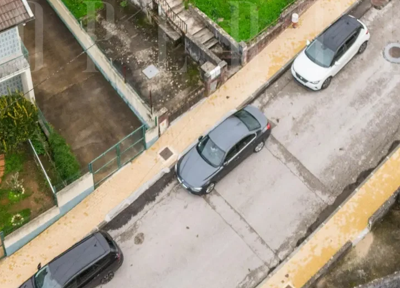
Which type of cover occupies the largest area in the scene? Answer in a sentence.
The largest share of the image is taken up by paved ground.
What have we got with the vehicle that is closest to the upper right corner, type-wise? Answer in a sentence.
The vehicle that is closest to the upper right corner in the image is a car.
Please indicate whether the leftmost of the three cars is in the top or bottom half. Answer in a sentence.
You can find the leftmost of the three cars in the bottom half.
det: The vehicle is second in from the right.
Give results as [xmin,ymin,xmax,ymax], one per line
[173,109,271,201]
